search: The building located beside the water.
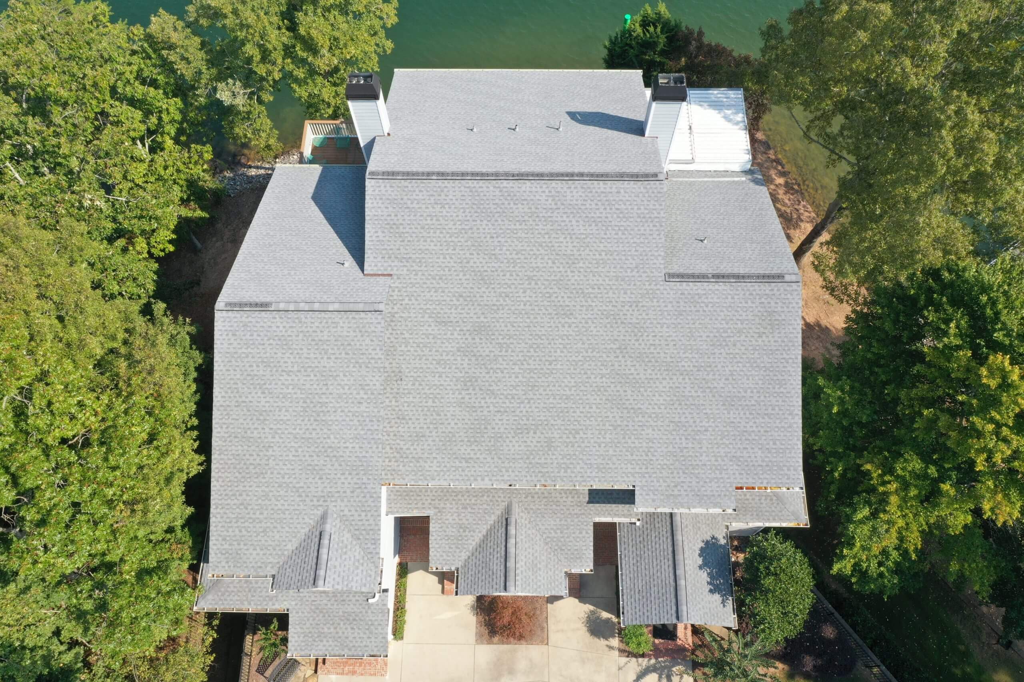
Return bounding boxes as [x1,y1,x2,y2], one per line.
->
[190,67,812,662]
